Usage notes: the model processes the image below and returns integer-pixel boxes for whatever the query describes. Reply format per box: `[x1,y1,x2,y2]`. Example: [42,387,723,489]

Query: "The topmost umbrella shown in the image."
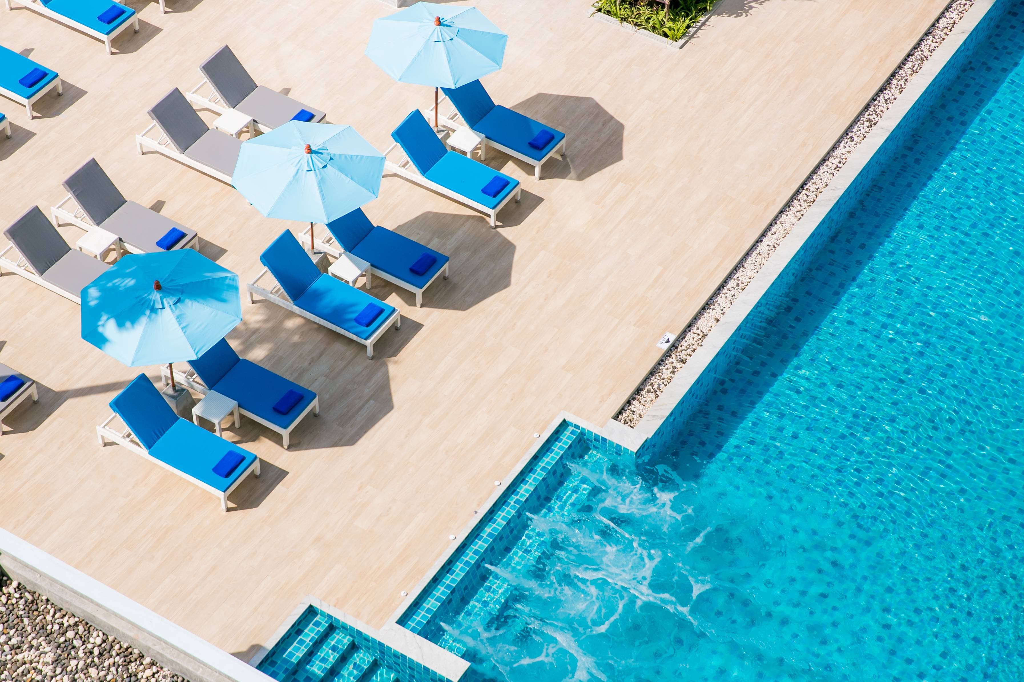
[366,0,508,142]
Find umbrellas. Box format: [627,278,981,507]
[366,0,508,142]
[81,250,244,417]
[231,120,387,272]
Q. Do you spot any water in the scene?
Yes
